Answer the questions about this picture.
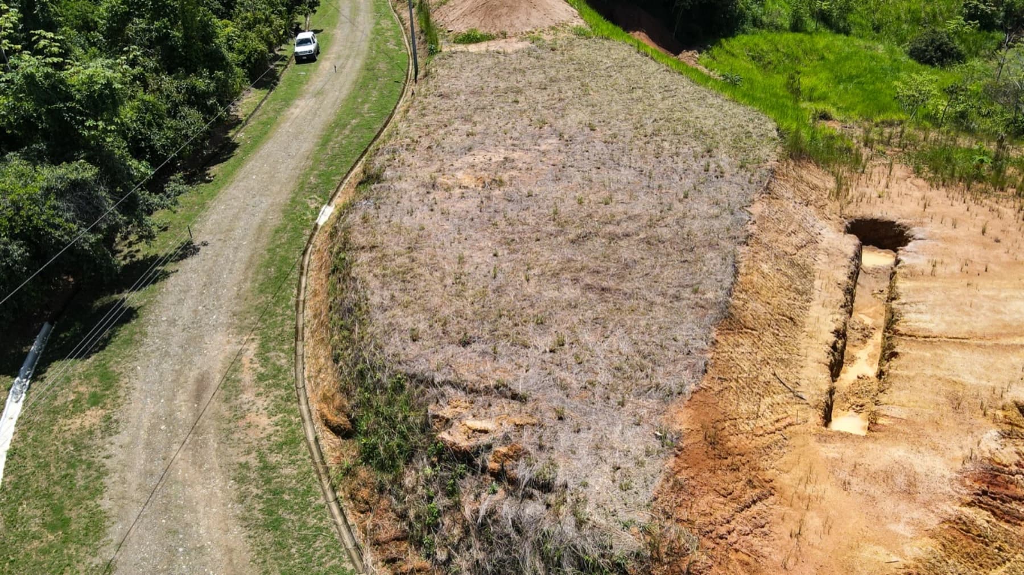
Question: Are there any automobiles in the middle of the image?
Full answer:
No, there is no automobile in the middle of the image.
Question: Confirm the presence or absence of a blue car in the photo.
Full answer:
No, no blue car is visible in the view.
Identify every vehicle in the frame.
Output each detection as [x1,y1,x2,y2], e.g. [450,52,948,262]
[290,26,321,60]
